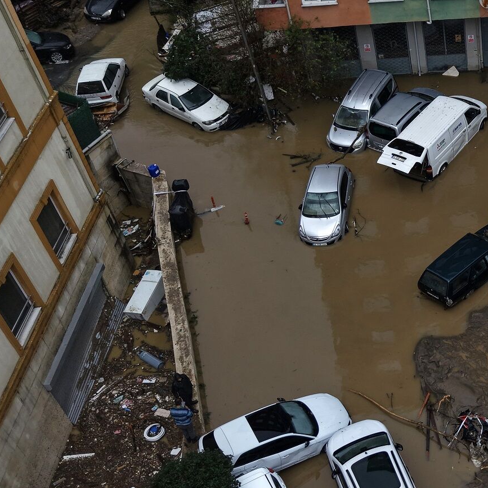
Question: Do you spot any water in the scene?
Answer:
Yes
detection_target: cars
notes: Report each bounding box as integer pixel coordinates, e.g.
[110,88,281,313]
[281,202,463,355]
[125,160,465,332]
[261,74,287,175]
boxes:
[20,13,80,56]
[86,0,123,19]
[79,53,135,100]
[296,167,352,244]
[368,93,441,153]
[328,428,413,488]
[152,79,228,129]
[334,70,399,149]
[423,225,488,309]
[202,385,350,479]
